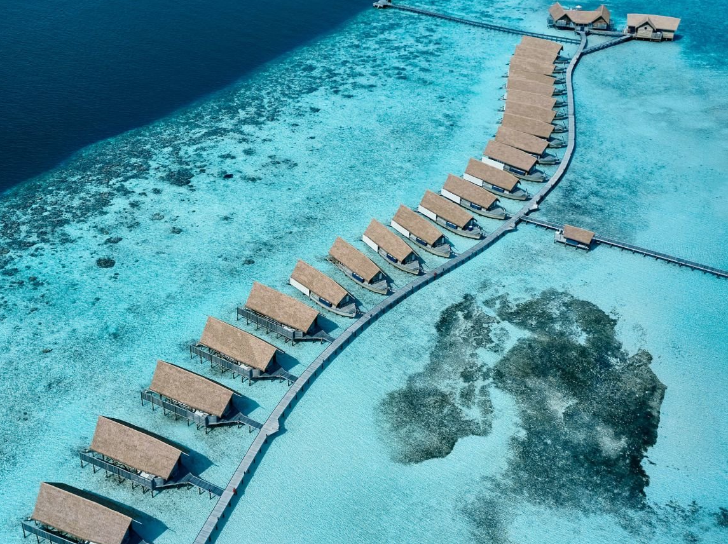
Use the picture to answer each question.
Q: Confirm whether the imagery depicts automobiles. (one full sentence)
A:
No, there appears to be no automobile in this shot.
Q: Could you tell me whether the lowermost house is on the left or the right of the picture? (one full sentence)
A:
The lowermost house is on the left side of the image.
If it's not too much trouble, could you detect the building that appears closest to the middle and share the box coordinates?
[239,284,338,347]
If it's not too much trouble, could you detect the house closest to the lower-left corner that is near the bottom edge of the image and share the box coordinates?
[23,484,150,544]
